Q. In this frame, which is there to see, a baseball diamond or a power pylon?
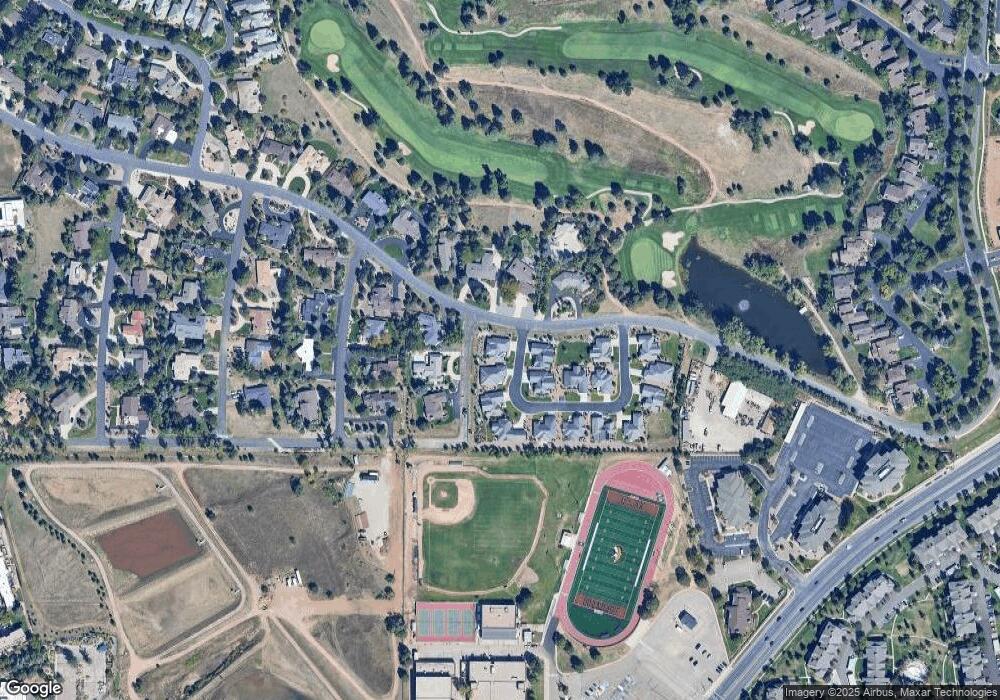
baseball diamond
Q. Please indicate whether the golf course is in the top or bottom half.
top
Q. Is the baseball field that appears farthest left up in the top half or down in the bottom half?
bottom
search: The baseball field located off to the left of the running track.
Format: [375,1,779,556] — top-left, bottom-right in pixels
[418,462,547,594]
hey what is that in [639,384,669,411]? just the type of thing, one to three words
house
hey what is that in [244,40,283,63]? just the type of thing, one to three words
house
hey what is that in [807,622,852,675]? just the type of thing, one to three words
building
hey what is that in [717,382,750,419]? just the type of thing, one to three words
shed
